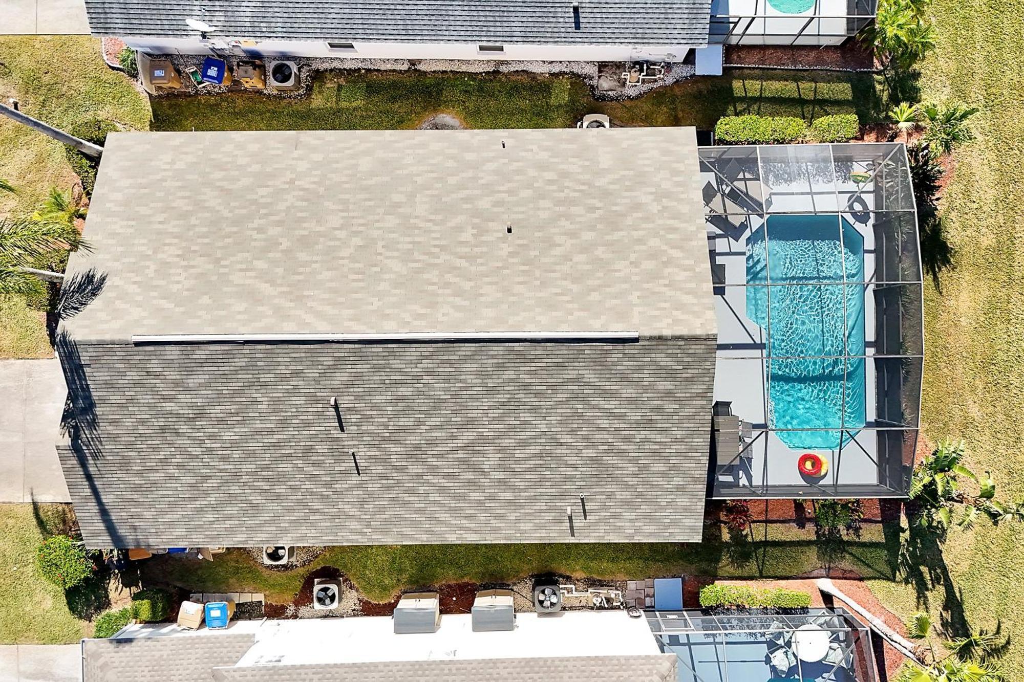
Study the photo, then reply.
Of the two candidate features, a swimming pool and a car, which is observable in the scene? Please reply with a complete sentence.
I can see a swimming pool in this picture.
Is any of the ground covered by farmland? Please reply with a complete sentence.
No, there's no farmland in this view.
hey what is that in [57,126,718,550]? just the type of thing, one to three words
house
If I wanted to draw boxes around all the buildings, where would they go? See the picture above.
[84,0,714,62]
[57,126,718,550]
[70,612,679,682]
